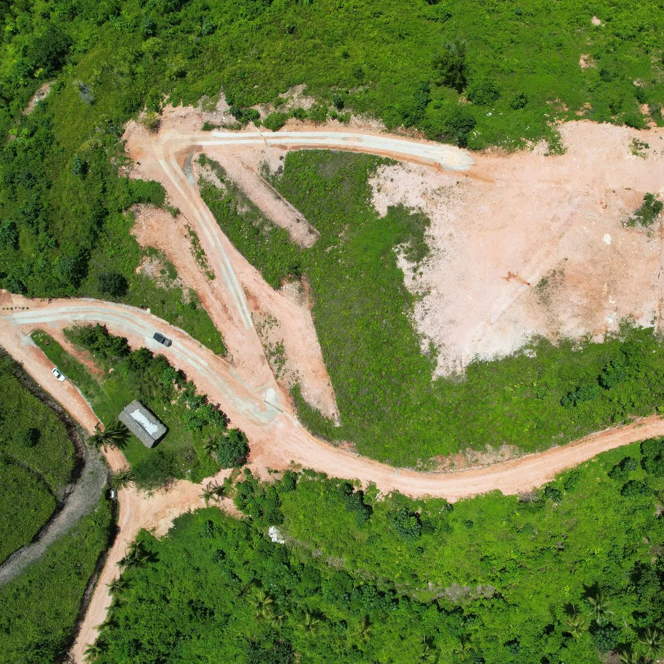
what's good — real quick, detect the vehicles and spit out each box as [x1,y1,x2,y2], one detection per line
[51,367,67,381]
[154,331,173,346]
